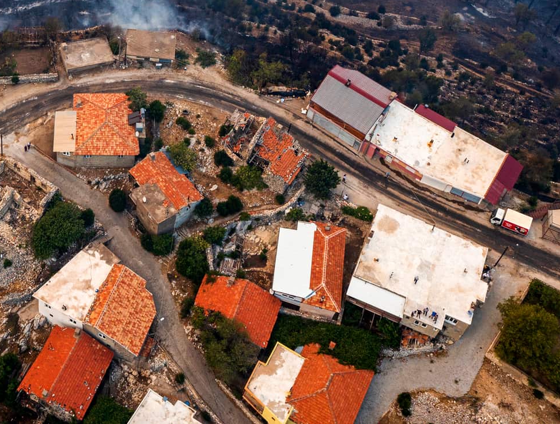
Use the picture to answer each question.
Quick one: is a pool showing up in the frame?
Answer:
No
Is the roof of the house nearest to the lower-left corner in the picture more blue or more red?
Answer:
red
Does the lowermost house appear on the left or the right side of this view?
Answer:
left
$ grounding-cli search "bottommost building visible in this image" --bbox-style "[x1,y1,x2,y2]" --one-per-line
[129,388,203,424]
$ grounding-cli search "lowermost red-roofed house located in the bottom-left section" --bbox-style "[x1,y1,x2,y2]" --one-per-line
[17,325,113,424]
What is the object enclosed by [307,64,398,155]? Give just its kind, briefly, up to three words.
building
